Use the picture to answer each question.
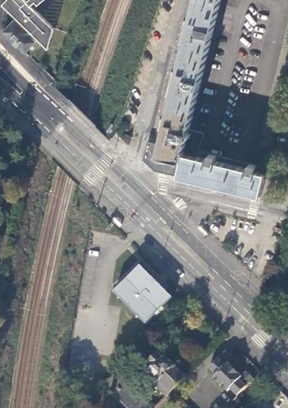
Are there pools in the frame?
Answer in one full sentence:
No, I find no pool anywhere in the image.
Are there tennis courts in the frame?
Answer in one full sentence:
No, I can see no tennis court in this picture.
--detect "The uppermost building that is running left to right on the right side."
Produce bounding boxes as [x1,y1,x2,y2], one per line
[176,154,268,202]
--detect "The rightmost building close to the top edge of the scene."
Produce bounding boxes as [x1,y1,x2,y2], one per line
[154,0,227,163]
